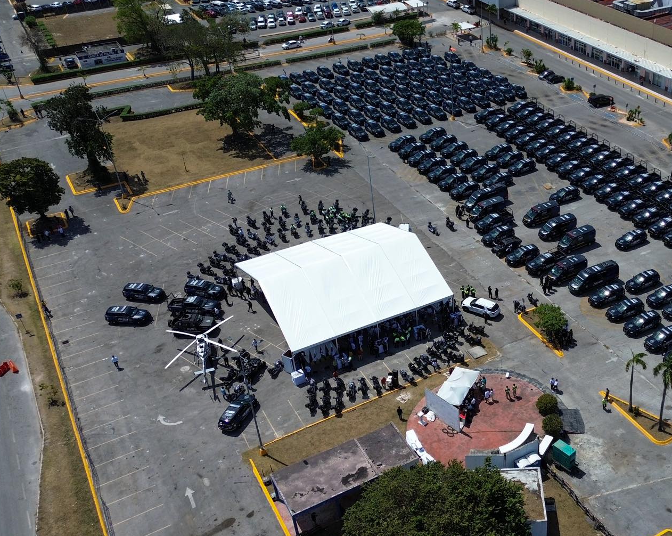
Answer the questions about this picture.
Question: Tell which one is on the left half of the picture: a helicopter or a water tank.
helicopter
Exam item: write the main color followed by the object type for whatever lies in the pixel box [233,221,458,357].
white tent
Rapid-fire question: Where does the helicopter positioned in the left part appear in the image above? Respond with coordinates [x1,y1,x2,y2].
[162,315,239,386]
